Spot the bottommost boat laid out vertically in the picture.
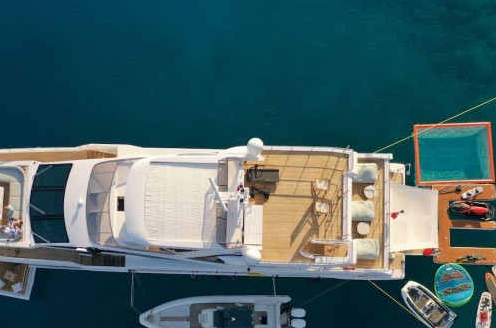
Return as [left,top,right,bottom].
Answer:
[477,292,492,328]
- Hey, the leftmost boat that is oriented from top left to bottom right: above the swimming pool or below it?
below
